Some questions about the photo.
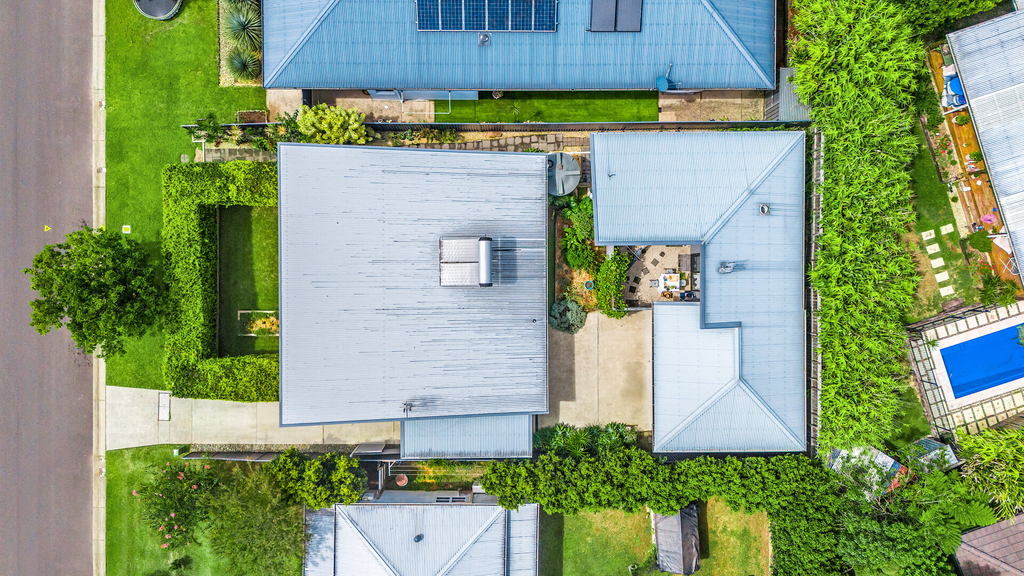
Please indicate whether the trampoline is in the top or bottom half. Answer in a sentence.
It is in the top half that the trampoline appears.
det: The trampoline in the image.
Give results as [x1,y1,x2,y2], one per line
[135,0,185,24]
